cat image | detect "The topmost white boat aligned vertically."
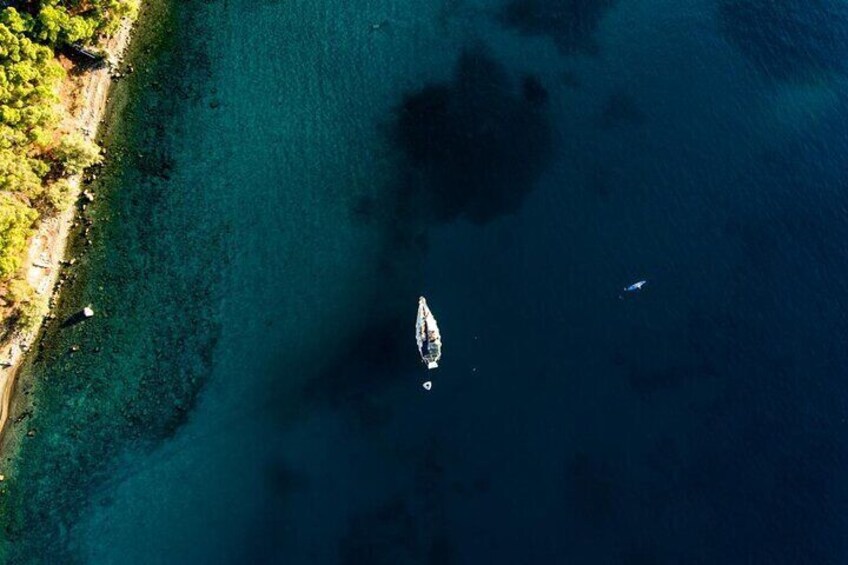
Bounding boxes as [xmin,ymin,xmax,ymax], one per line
[414,294,441,369]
